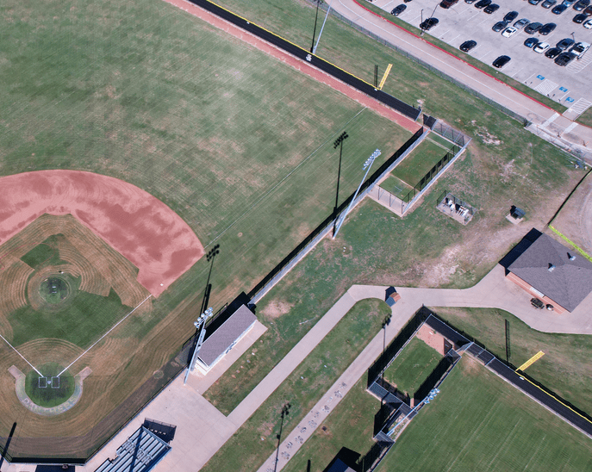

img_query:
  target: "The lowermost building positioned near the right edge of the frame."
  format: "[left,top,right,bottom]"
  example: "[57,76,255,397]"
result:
[505,234,592,316]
